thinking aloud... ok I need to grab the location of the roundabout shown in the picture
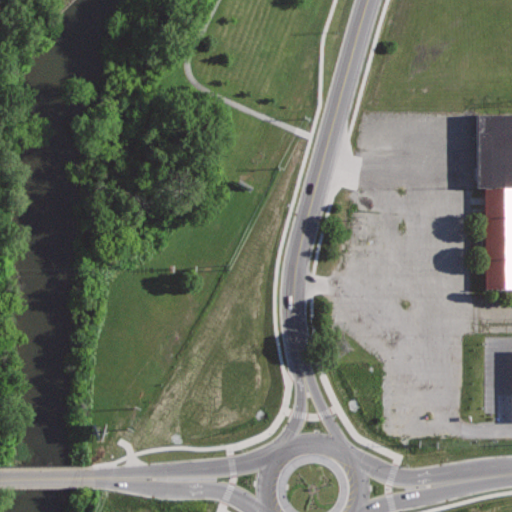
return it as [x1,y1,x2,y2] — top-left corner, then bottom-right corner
[218,392,406,512]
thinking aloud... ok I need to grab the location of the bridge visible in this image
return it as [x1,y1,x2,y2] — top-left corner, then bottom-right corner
[7,468,86,489]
